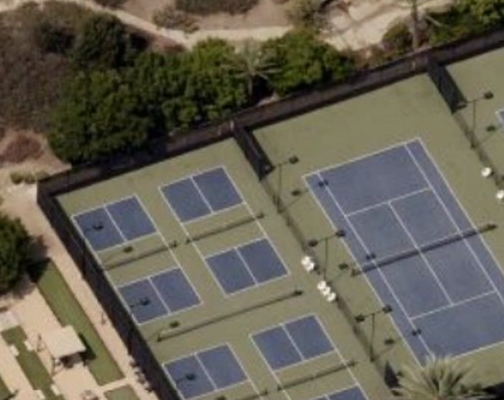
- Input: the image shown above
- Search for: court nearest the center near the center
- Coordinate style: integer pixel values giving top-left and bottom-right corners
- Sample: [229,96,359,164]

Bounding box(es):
[159,166,289,295]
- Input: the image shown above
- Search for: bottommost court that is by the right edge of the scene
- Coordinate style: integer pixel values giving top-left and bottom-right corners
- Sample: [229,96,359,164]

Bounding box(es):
[305,140,504,369]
